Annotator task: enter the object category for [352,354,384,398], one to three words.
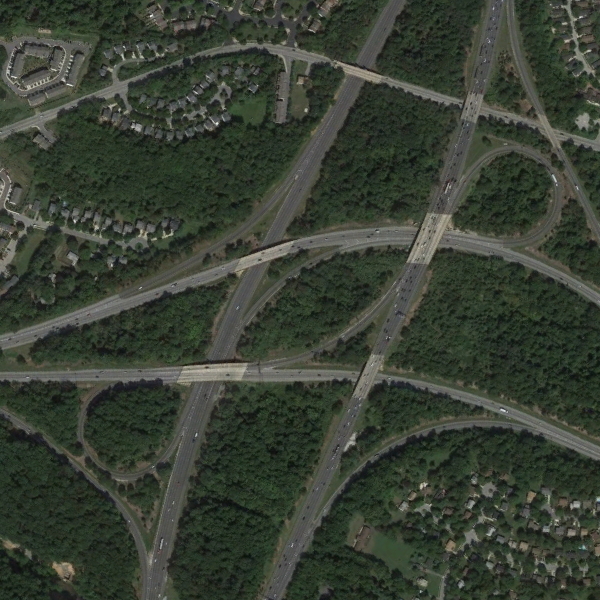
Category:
overpass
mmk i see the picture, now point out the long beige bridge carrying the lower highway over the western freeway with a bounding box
[177,364,248,383]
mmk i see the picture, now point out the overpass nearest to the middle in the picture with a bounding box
[235,238,296,273]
